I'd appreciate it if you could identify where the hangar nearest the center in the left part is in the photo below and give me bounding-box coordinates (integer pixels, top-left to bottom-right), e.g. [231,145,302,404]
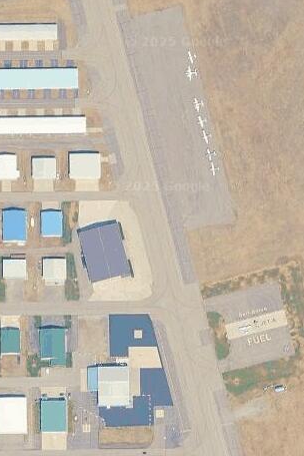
[77,222,132,284]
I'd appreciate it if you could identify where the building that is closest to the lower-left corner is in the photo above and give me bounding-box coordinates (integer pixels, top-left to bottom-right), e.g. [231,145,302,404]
[0,396,26,434]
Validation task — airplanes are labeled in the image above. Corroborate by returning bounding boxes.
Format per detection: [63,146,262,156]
[187,51,196,64]
[186,66,196,81]
[193,100,202,111]
[201,130,211,144]
[197,116,206,129]
[206,149,215,162]
[239,323,252,332]
[210,163,219,176]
